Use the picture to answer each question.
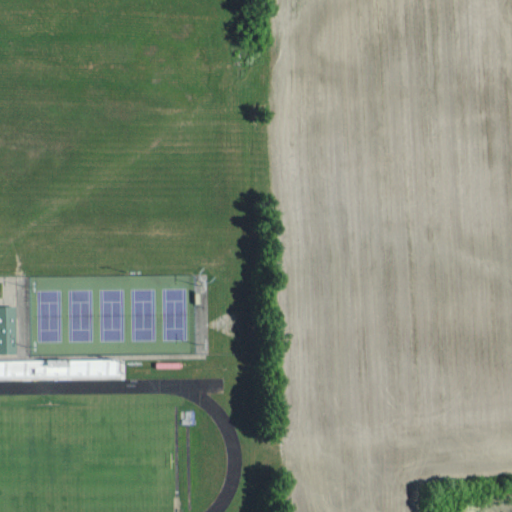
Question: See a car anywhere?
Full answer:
No, I can see no car in this picture.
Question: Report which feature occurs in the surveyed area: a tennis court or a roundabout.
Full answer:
Visible in the photo is a tennis court.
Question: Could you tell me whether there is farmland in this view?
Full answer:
Yes, there is farmland in the image.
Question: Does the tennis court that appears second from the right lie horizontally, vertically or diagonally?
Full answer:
Seen from above, the tennis court that appears second from the right lies vertically.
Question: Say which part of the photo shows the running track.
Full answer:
The running track appears toward the bottom left of the photo.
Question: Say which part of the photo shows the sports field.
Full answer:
The sports field sits in the bottom left section of the image.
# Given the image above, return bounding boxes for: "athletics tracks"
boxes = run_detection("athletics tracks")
[0,378,242,512]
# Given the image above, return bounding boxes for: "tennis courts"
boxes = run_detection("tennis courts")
[130,290,156,342]
[38,290,64,342]
[68,290,93,342]
[100,290,126,342]
[162,289,189,342]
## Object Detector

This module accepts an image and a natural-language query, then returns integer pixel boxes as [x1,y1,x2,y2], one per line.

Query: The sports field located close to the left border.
[0,394,176,512]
